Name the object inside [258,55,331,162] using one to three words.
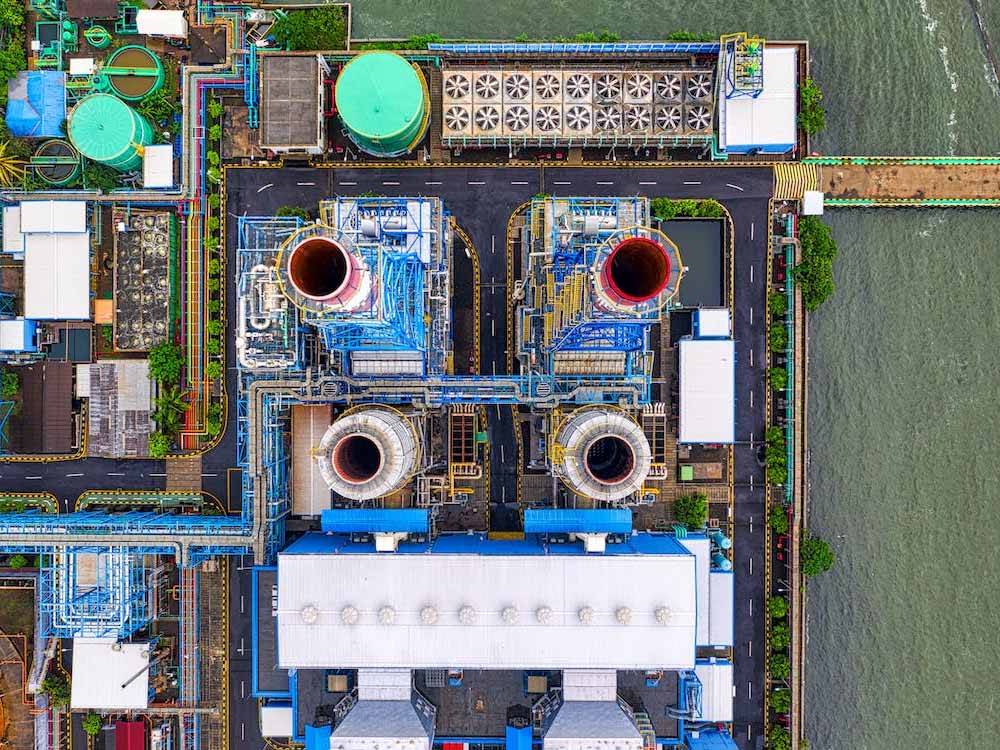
building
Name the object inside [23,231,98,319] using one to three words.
building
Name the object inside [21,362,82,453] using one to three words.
shed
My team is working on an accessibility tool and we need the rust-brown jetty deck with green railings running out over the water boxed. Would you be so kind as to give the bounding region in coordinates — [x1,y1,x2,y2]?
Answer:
[803,157,1000,206]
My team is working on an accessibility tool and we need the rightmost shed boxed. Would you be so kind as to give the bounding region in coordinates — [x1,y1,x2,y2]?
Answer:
[797,191,823,217]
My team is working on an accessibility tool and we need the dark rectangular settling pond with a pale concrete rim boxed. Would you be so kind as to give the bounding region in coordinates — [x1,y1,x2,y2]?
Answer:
[660,217,727,307]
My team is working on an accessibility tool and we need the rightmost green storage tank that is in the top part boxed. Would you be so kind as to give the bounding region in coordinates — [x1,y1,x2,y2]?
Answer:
[335,49,436,162]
